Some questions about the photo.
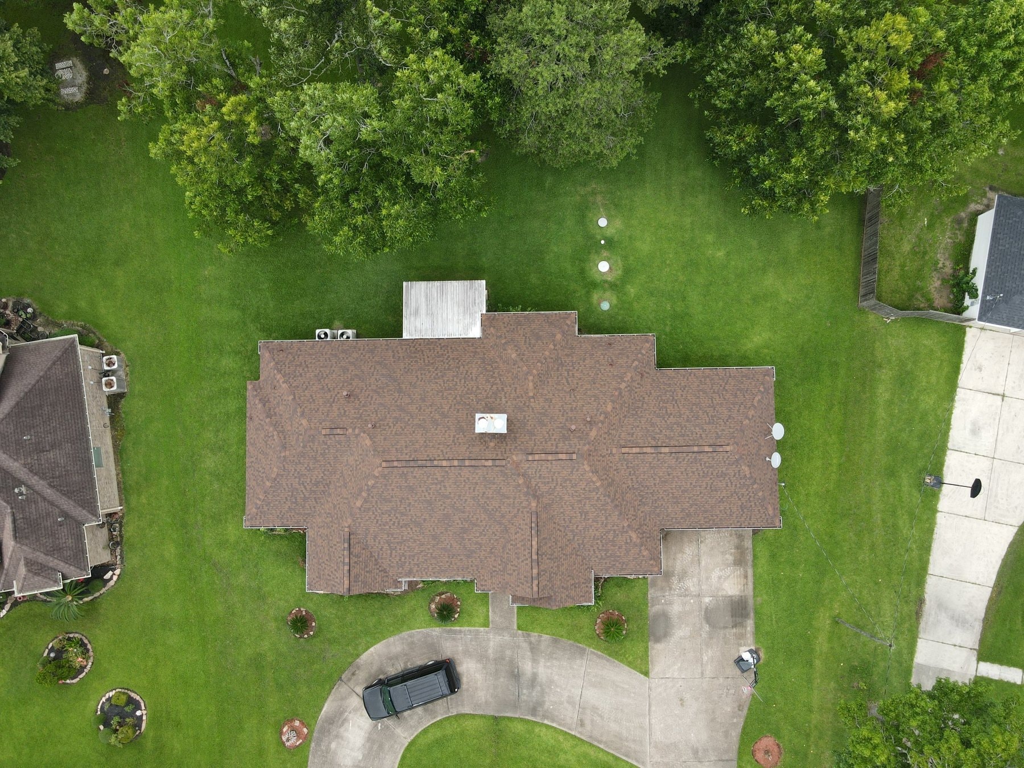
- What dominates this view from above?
grass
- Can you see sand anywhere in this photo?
No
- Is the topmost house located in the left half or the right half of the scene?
right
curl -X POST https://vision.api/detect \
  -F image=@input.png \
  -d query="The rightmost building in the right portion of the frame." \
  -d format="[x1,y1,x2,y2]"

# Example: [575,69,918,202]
[962,193,1024,338]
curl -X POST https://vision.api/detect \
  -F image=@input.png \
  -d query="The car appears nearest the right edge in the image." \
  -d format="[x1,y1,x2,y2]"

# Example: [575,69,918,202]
[363,656,462,722]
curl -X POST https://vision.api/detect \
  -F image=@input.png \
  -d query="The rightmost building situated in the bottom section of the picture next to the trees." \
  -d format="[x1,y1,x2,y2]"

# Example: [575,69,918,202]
[244,311,783,611]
